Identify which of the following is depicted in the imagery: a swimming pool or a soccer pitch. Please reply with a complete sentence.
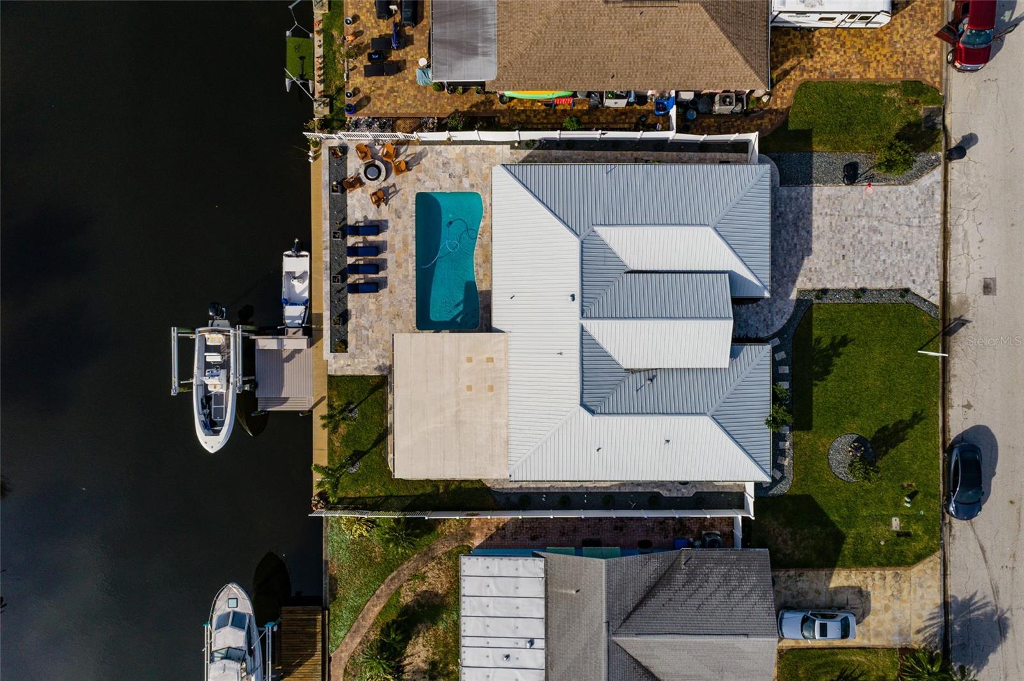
Looking from above, you can make out a swimming pool.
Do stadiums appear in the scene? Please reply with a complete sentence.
No, there is no stadium in the image.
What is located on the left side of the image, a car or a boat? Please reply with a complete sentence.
What appears on the left side of the image is a boat.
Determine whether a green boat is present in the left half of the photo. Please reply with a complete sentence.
Yes, a green boat shows up in the left half of the photo.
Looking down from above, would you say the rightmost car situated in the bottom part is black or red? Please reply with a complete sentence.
The rightmost car situated in the bottom part is black.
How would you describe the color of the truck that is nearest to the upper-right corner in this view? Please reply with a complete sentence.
From above, the truck that is nearest to the upper-right corner appears red.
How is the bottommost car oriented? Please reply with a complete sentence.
In this picture, the bottommost car lies horizontally.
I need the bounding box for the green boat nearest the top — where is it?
[285,31,314,92]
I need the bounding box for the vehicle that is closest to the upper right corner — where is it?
[936,0,1013,74]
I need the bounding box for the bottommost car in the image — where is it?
[776,605,856,643]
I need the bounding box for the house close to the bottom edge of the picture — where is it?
[459,543,778,681]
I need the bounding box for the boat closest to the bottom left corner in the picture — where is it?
[209,584,259,681]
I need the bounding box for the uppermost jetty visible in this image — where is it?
[249,327,312,417]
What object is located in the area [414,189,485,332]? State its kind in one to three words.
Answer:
swimming pool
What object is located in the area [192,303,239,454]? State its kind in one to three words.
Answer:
boat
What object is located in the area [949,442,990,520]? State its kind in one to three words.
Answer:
car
